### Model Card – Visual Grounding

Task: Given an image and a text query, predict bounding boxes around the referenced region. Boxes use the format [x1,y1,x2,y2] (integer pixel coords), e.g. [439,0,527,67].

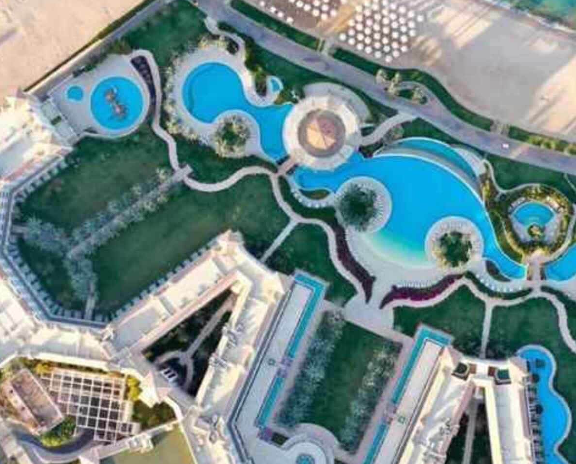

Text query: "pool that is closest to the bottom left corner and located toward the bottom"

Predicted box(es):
[256,377,285,426]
